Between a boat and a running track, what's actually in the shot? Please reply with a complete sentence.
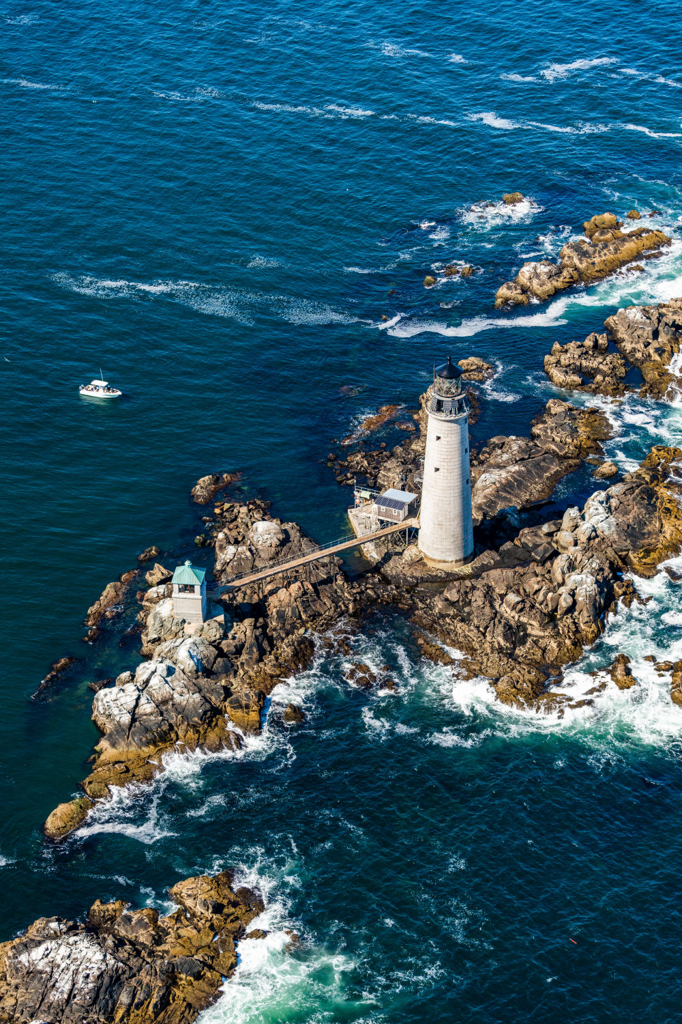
The one in the frame is a boat.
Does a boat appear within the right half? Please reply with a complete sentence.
No, no boat appears within the right half.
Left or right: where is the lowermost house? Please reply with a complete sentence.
The lowermost house is on the left side of the image.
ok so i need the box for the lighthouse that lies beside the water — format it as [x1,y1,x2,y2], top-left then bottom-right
[411,356,476,571]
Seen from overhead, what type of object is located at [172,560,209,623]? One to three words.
house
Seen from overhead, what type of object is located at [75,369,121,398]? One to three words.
boat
